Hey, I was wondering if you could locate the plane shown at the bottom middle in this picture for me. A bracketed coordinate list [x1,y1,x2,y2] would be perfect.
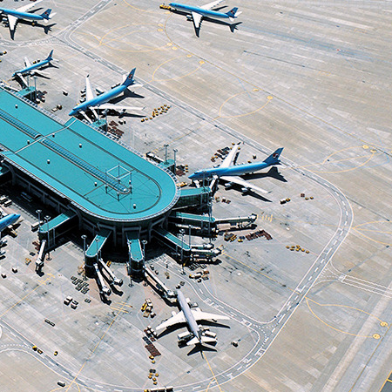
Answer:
[155,290,229,343]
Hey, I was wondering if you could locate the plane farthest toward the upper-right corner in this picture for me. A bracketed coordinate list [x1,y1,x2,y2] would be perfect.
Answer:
[169,0,241,27]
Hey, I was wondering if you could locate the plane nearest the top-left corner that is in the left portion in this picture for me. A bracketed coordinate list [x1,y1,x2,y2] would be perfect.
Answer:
[0,0,56,29]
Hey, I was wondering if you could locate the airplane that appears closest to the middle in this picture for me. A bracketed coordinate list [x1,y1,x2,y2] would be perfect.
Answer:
[189,140,285,191]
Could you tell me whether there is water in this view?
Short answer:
No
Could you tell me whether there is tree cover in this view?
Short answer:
No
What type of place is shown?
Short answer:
airport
